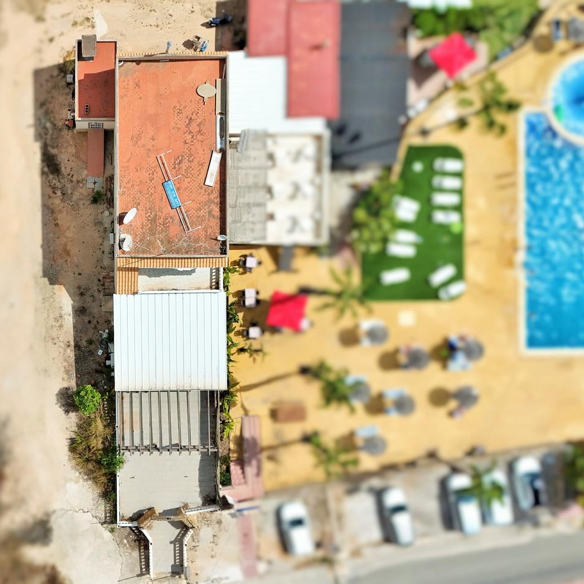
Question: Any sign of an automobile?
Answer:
Yes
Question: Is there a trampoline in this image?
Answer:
No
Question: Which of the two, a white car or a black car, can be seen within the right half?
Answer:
white car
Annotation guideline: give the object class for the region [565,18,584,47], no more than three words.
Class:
umbrella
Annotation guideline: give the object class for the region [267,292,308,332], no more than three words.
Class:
umbrella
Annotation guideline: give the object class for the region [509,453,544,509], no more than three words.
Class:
car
